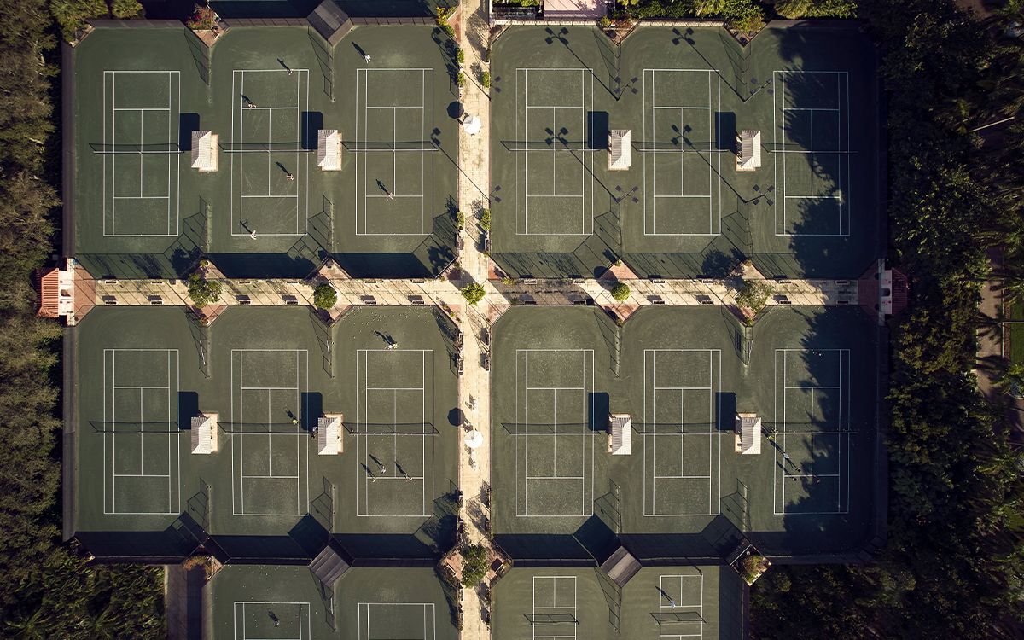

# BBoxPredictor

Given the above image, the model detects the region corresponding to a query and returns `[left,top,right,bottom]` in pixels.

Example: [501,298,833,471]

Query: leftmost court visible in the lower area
[75,306,208,558]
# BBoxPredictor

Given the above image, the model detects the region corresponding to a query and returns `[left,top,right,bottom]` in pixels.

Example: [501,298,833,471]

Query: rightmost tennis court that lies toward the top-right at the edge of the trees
[747,26,877,279]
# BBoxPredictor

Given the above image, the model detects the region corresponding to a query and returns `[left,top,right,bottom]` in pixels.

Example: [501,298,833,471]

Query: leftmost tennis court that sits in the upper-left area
[75,26,208,278]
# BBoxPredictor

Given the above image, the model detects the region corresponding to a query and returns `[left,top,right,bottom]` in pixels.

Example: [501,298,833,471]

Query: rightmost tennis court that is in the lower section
[747,306,877,558]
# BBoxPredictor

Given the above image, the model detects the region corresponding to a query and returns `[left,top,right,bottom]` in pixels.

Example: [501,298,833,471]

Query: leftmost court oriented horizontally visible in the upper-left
[212,0,321,24]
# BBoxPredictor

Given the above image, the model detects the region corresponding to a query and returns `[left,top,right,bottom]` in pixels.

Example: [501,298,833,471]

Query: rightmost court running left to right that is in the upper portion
[332,0,458,21]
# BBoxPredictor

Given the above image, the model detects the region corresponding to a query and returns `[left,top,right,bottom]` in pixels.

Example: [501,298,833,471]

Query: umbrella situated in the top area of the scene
[462,114,478,131]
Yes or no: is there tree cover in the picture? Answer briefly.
Yes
